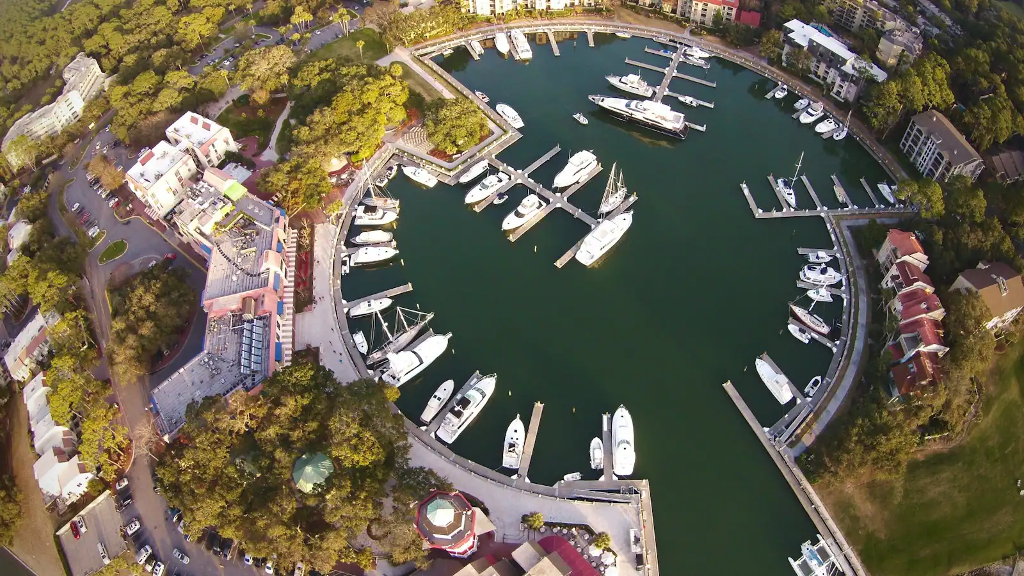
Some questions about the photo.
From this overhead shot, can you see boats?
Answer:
Yes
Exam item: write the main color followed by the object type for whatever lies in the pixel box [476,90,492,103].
white boat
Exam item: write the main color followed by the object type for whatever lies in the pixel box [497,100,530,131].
white boat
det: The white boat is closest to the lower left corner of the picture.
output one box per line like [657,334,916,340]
[353,330,367,353]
